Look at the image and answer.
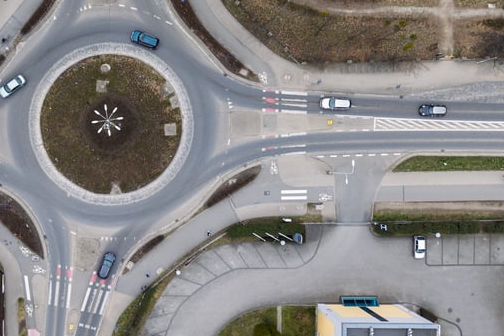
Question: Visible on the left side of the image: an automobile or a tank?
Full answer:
You can see an automobile on the left side of the image.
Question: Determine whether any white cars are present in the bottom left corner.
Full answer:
No, looking in the bottom left corner, there is no white car.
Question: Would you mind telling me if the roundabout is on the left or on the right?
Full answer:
You can find the roundabout on the left side of the picture.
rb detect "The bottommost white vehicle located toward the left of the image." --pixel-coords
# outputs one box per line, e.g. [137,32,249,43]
[0,72,26,98]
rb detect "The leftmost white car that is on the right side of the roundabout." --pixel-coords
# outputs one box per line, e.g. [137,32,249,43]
[320,94,354,110]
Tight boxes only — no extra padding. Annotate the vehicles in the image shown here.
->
[129,29,159,48]
[419,102,450,116]
[414,236,430,261]
[0,72,26,98]
[96,249,117,281]
[320,94,354,110]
